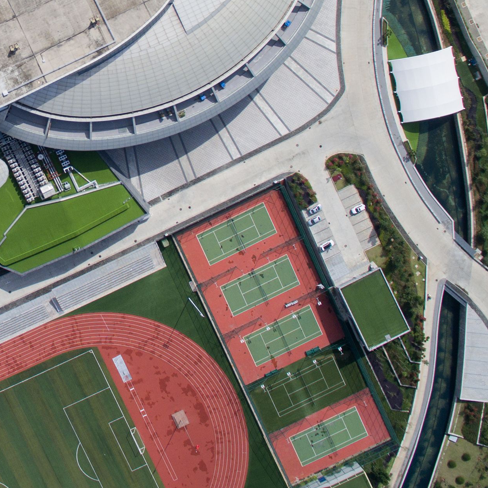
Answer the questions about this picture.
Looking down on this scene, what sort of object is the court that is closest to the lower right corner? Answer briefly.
tennis court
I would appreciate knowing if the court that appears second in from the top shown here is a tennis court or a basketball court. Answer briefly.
tennis court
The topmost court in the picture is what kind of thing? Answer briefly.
tennis court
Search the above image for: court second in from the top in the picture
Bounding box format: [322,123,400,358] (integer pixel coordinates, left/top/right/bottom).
[219,255,299,317]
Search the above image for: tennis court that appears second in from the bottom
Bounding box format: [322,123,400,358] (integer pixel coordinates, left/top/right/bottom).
[266,357,345,417]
